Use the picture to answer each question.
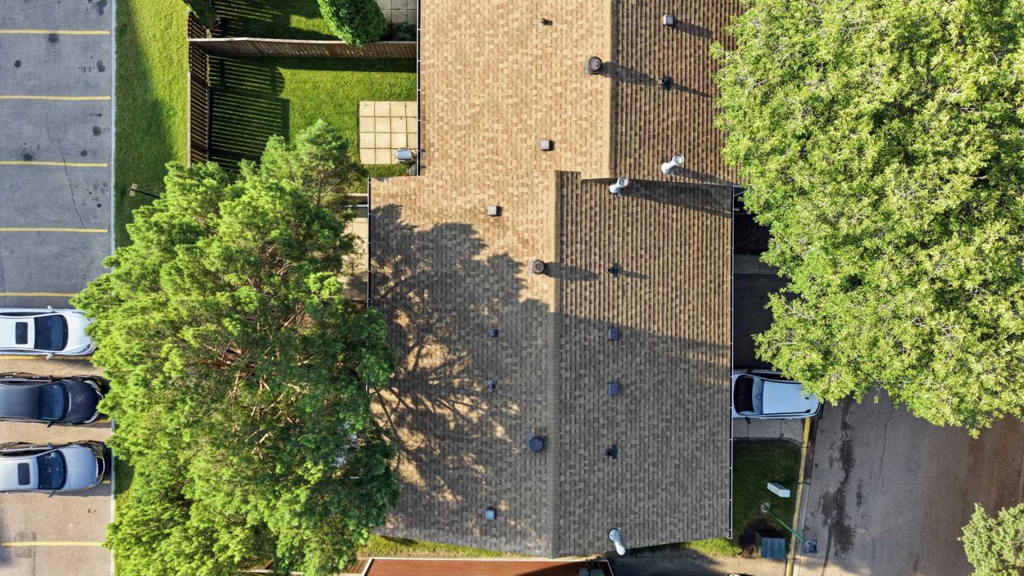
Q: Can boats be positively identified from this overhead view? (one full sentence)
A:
No, there appears to be no boat in this shot.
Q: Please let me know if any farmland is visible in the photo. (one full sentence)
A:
No, there is no farmland in the image.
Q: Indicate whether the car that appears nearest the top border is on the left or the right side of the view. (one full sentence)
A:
You can find the car that appears nearest the top border on the left side of the picture.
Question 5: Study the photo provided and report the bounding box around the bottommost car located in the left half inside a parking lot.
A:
[0,440,108,501]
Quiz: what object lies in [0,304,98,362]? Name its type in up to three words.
car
